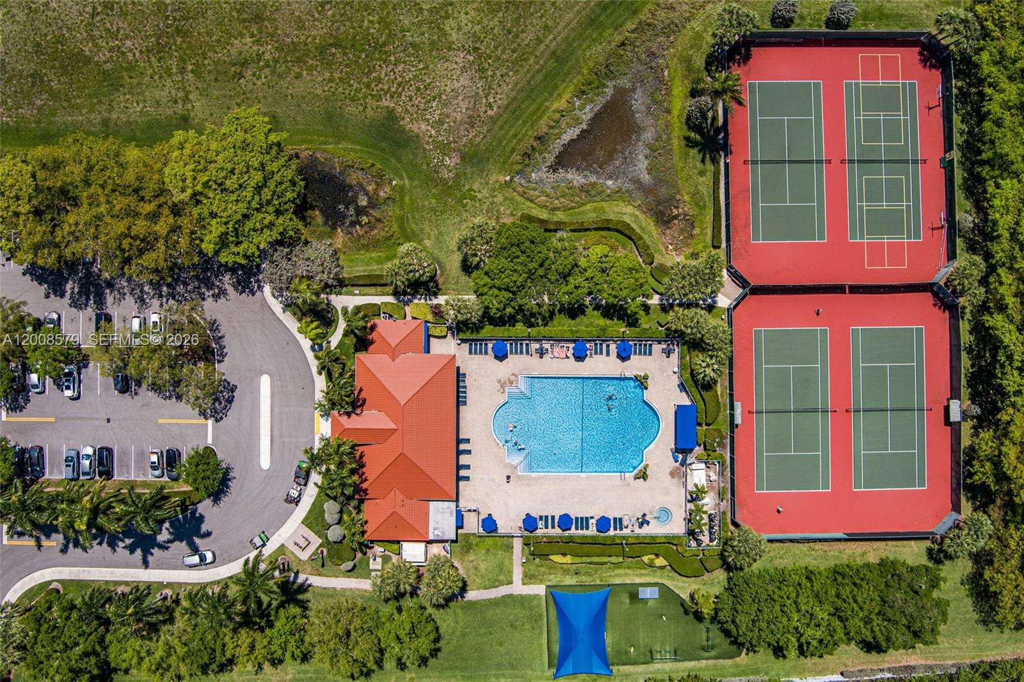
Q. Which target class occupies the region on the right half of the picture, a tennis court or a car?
tennis court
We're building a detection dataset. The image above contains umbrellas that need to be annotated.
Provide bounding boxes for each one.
[491,341,508,357]
[481,516,497,532]
[557,513,573,530]
[616,341,632,357]
[572,341,588,358]
[522,514,538,531]
[595,515,611,532]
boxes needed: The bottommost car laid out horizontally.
[182,550,218,566]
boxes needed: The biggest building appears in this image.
[328,319,462,541]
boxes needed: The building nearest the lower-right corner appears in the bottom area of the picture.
[690,459,705,486]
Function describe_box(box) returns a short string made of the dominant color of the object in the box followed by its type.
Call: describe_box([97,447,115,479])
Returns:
black car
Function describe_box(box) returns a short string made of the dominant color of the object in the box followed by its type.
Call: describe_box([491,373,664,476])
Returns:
blue swimming pool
